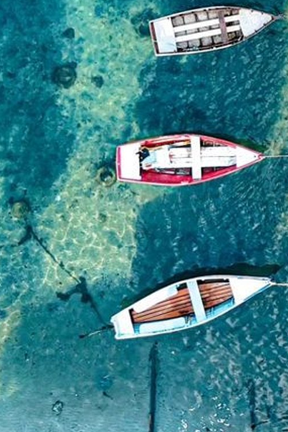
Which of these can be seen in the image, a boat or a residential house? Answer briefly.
boat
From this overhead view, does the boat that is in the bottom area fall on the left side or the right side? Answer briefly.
right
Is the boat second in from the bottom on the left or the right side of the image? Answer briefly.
right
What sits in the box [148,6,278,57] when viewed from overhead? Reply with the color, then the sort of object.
white boat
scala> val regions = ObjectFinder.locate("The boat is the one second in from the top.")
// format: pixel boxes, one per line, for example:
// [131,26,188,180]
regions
[114,134,267,187]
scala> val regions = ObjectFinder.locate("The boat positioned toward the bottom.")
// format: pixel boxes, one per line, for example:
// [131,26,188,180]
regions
[109,277,273,339]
